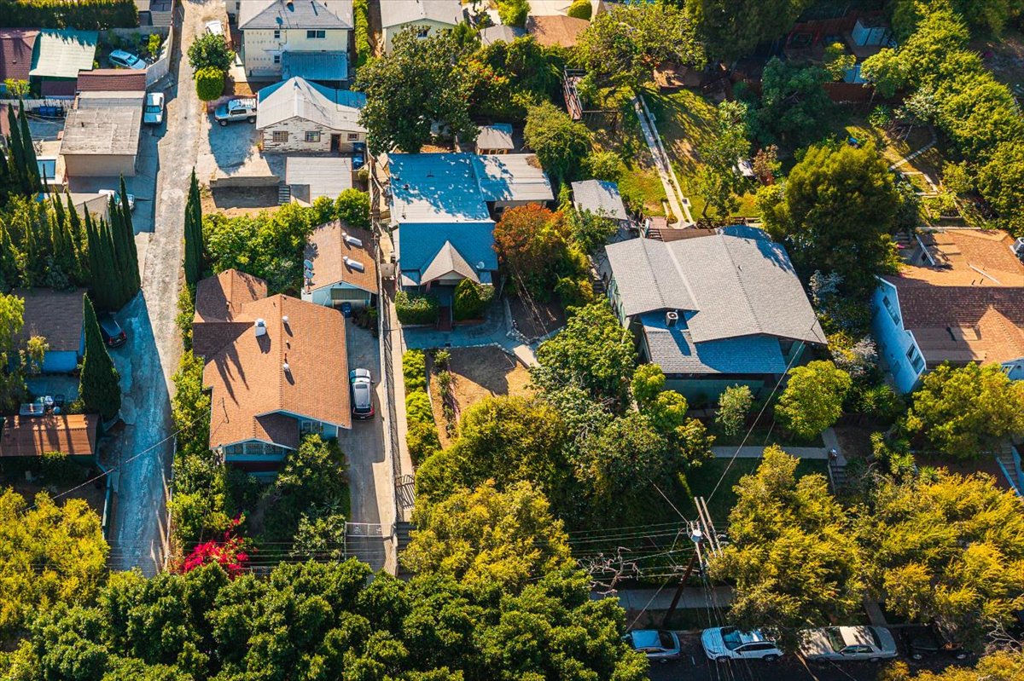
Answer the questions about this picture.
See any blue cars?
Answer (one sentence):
Yes, a blue car can be made out from above.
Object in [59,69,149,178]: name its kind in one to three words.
building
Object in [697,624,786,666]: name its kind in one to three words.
car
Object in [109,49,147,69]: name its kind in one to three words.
car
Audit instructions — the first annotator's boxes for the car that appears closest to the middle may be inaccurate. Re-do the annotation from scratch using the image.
[349,372,377,422]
